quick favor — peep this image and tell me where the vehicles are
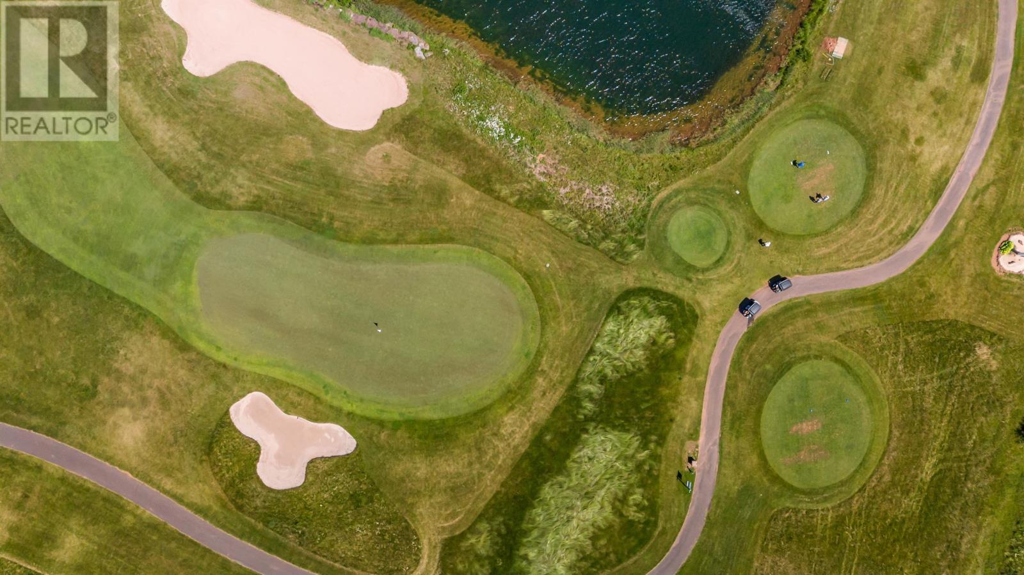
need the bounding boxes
[742,300,762,318]
[771,278,792,292]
